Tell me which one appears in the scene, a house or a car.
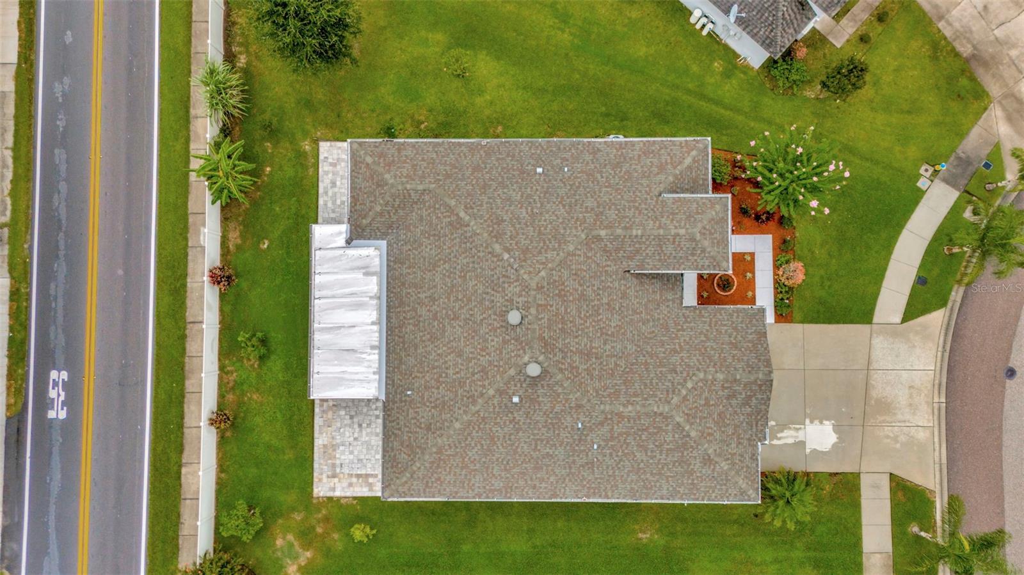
house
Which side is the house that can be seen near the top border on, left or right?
right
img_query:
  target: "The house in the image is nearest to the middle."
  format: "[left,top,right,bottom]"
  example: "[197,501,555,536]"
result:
[310,136,776,504]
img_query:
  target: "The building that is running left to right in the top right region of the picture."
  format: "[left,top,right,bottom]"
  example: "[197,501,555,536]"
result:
[682,0,846,67]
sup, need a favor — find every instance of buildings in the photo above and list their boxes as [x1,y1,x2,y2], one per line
[682,0,846,67]
[310,136,776,504]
